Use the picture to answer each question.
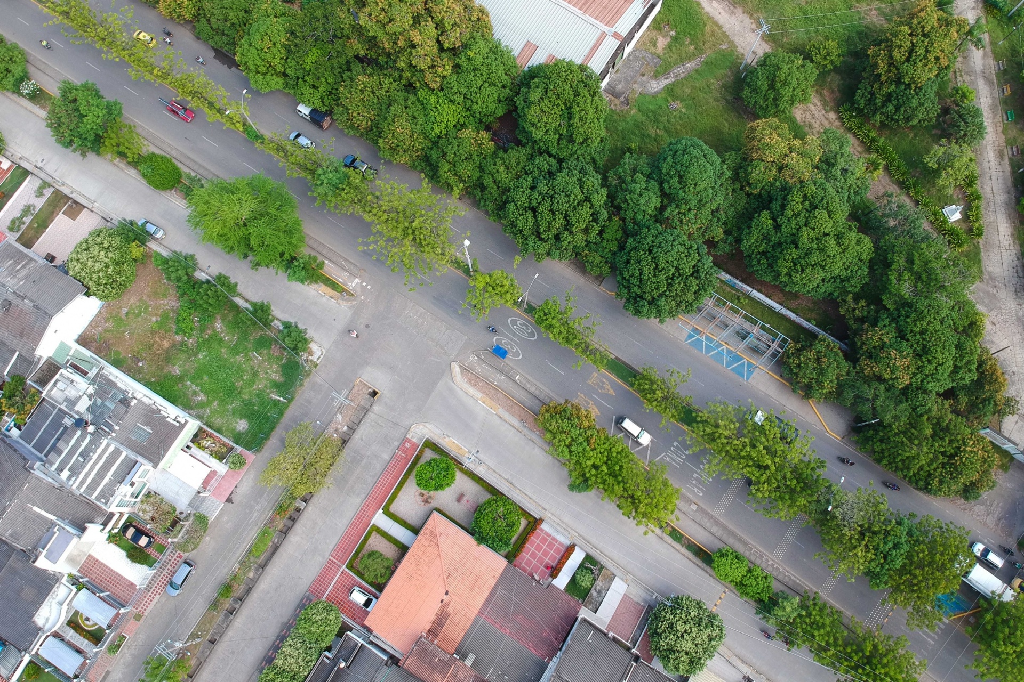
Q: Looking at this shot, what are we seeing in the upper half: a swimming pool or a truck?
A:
truck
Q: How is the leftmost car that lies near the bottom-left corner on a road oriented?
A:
on a diagonal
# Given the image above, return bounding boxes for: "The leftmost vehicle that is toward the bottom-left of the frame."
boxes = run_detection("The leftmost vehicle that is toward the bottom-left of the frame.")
[123,523,154,548]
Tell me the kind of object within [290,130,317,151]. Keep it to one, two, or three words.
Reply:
car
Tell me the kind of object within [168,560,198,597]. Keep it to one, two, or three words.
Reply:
car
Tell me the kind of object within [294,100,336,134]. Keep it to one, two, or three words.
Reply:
truck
